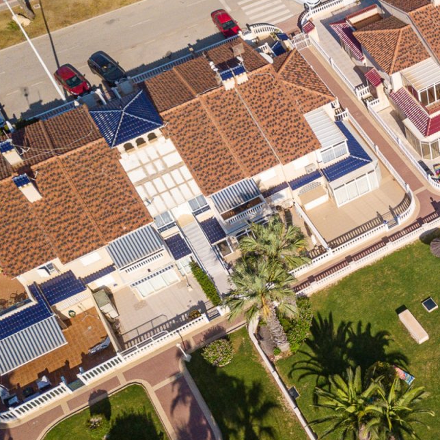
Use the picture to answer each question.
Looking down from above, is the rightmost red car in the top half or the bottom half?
top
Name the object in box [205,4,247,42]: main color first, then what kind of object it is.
red car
